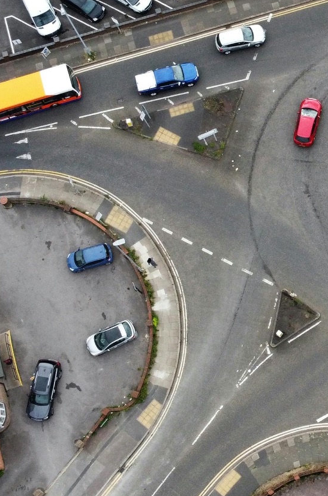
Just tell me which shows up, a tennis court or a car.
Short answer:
car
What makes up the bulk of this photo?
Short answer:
paved ground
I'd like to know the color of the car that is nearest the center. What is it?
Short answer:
blue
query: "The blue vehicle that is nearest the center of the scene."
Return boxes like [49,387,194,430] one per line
[64,241,113,270]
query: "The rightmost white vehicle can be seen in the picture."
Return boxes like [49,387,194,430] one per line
[213,19,266,49]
